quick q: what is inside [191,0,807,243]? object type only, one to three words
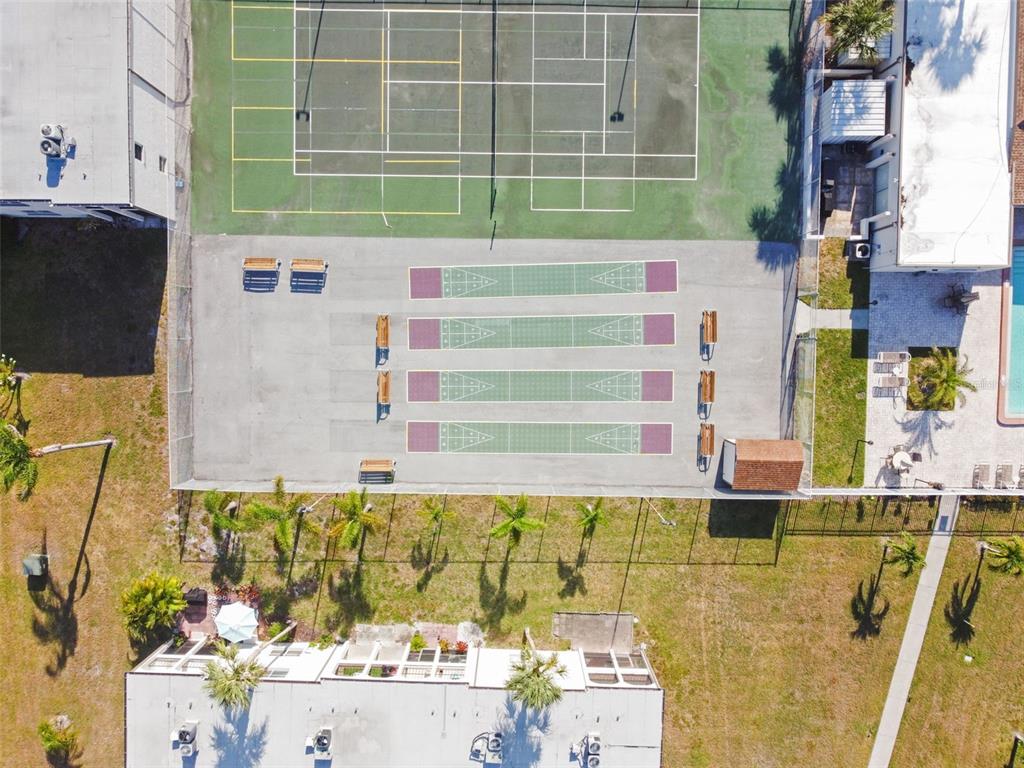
tennis court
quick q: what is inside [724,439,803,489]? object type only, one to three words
shed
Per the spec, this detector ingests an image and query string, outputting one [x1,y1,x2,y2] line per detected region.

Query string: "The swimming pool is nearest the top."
[1000,238,1024,426]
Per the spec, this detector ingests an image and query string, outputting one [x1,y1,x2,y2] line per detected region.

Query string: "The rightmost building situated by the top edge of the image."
[869,0,1024,272]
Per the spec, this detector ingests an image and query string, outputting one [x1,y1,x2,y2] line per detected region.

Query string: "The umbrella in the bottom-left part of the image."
[215,596,263,644]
